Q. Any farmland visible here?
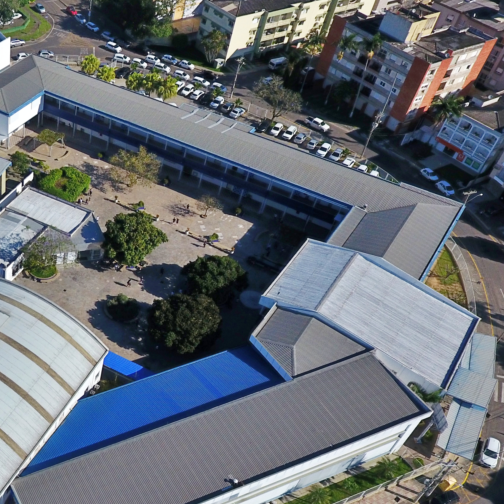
No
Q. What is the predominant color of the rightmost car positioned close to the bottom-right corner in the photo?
white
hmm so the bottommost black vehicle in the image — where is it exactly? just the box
[428,490,462,504]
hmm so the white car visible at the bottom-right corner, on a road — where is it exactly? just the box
[480,436,502,468]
